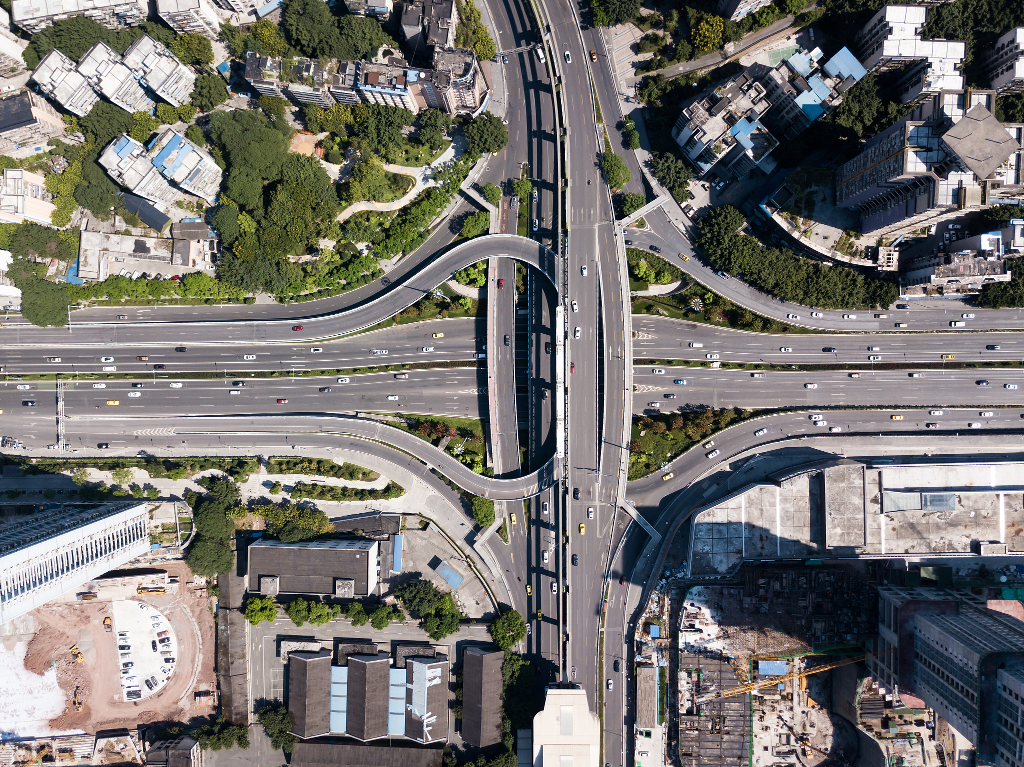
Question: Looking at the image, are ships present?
No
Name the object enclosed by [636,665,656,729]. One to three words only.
shed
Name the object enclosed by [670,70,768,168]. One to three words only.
building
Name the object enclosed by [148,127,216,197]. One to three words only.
building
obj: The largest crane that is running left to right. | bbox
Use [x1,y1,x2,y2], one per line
[696,642,896,700]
